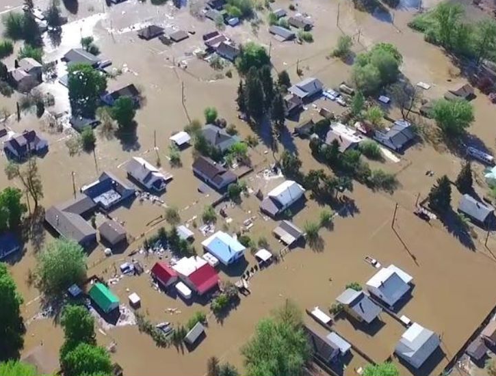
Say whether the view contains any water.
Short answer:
Yes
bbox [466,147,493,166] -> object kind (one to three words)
camper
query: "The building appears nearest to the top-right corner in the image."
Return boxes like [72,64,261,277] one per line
[438,85,480,104]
